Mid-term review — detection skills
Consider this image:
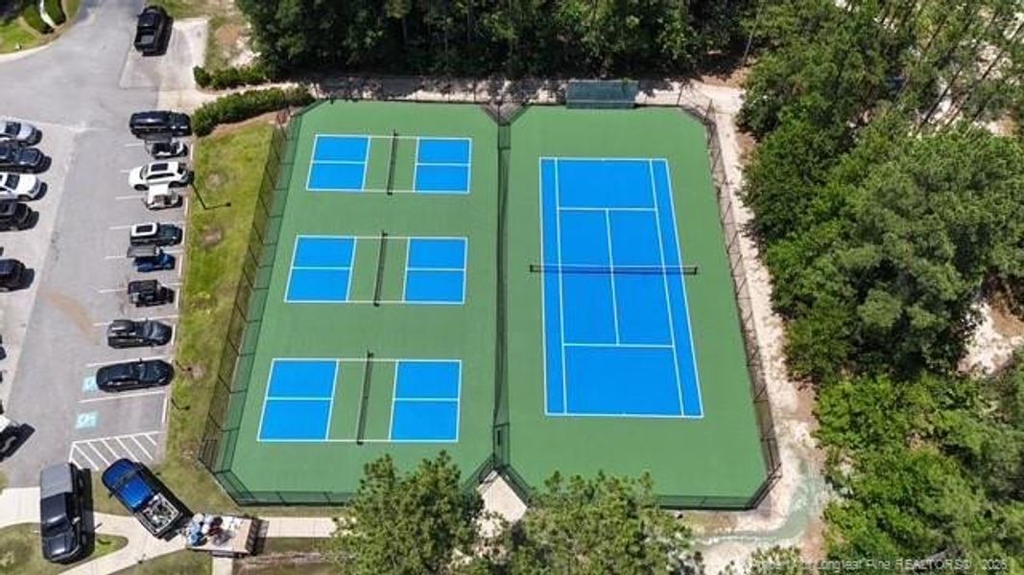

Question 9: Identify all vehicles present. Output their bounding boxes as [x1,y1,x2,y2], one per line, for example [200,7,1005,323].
[93,356,174,393]
[0,117,45,146]
[129,159,192,189]
[141,182,182,209]
[0,142,51,173]
[147,137,188,163]
[124,281,173,310]
[0,170,47,200]
[0,257,30,291]
[0,422,24,451]
[36,462,85,564]
[0,200,36,232]
[120,222,184,252]
[109,461,192,539]
[128,247,174,276]
[133,7,170,53]
[102,317,174,352]
[127,108,193,140]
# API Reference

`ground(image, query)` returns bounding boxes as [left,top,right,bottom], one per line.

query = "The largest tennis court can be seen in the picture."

[494,105,766,508]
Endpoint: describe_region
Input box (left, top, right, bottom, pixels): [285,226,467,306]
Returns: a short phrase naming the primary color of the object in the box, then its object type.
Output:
blue sports court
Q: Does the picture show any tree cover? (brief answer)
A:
Yes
